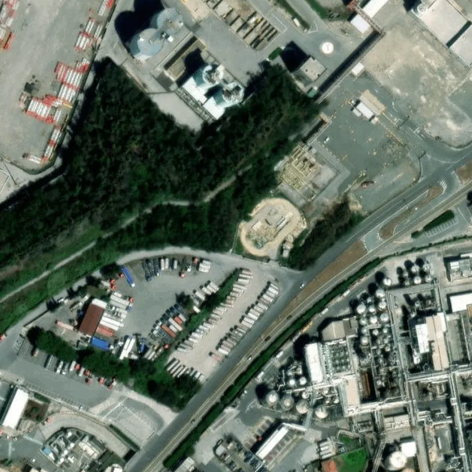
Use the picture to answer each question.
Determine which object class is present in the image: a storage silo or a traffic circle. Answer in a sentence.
Visible in the photo is a storage silo.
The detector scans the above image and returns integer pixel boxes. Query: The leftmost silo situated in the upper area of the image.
[130,30,163,62]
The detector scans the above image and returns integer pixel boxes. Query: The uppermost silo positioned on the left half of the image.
[151,8,182,40]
